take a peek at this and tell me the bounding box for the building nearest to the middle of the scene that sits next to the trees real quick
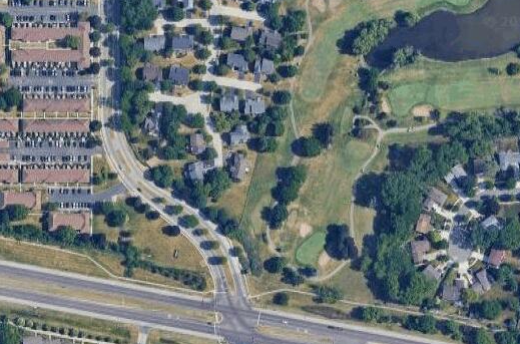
[233,154,251,180]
